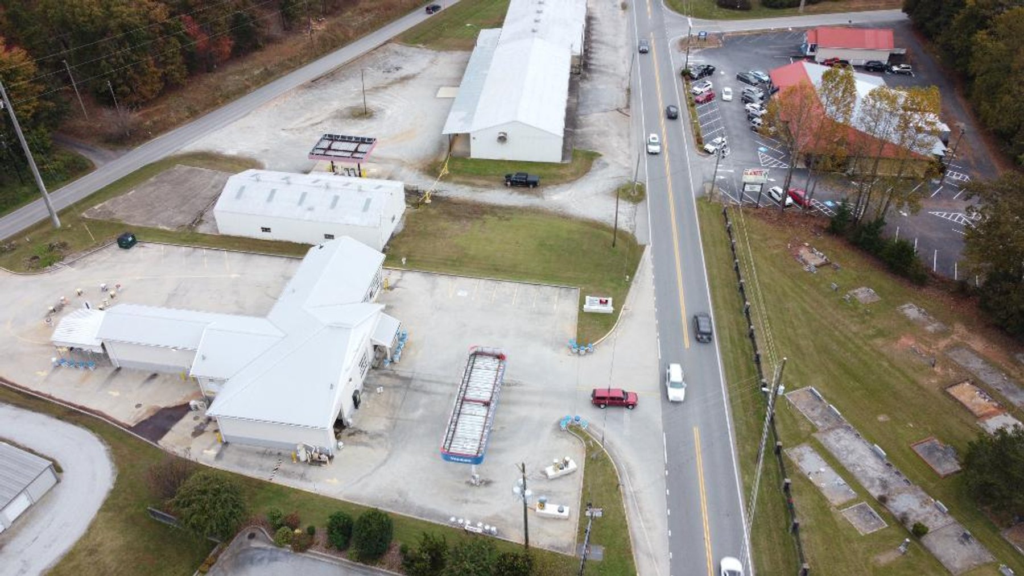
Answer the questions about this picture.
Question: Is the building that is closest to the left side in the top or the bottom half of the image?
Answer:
bottom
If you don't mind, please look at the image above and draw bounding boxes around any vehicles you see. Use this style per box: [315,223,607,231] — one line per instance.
[694,314,713,340]
[426,3,442,12]
[747,111,768,122]
[742,85,762,98]
[665,363,687,400]
[697,91,714,102]
[697,64,714,77]
[592,384,637,407]
[750,70,768,83]
[767,188,794,205]
[737,72,757,86]
[506,172,539,186]
[750,117,771,132]
[705,137,726,151]
[864,59,888,71]
[742,93,763,106]
[823,57,849,68]
[890,63,913,74]
[722,88,732,100]
[667,107,677,119]
[639,39,649,51]
[648,136,660,151]
[788,189,815,207]
[745,103,766,114]
[690,65,703,76]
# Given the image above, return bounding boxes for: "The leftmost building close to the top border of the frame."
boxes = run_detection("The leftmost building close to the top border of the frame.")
[443,0,587,162]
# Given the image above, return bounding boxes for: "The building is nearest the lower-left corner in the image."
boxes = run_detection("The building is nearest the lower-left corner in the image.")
[0,437,59,530]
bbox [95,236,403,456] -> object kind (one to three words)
building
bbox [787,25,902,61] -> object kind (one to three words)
building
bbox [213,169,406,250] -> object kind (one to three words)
shed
